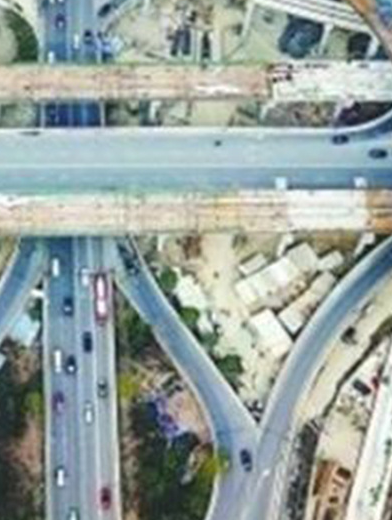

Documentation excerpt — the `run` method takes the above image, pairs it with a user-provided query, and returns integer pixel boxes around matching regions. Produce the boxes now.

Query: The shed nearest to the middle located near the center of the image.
[176,277,207,309]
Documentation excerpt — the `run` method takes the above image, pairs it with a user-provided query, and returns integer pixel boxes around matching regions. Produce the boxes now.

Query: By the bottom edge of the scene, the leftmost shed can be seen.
[312,460,335,497]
